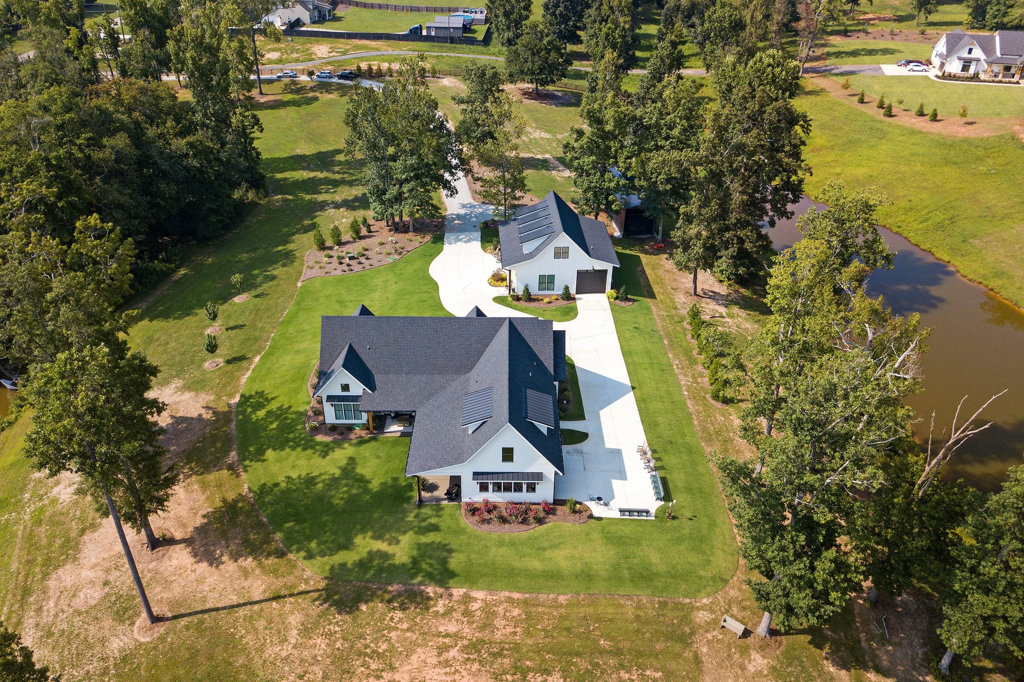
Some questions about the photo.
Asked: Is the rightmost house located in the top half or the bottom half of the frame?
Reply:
top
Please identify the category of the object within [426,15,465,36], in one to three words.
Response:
shed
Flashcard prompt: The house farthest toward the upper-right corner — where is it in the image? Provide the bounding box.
[914,27,1024,79]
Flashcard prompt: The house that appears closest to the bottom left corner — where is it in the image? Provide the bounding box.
[310,304,567,506]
